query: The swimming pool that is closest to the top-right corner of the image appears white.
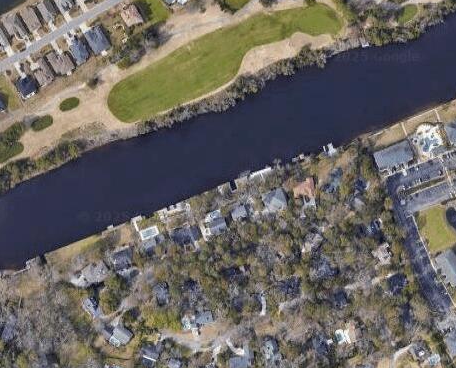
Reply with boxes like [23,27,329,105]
[416,123,444,156]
